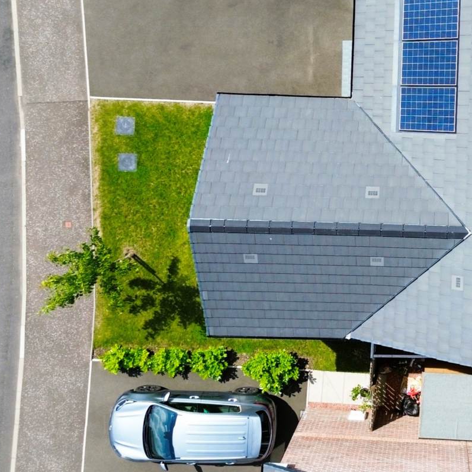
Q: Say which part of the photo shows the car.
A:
bottom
